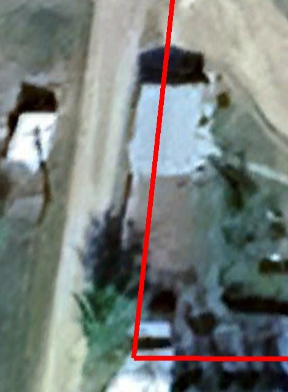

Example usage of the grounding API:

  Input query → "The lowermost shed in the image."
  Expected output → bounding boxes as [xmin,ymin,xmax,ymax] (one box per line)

[110,342,172,392]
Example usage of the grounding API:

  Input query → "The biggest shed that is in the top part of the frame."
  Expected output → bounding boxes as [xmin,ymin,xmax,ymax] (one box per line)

[130,77,207,178]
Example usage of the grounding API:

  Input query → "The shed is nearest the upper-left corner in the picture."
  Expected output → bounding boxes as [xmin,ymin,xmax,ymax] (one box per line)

[7,105,56,173]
